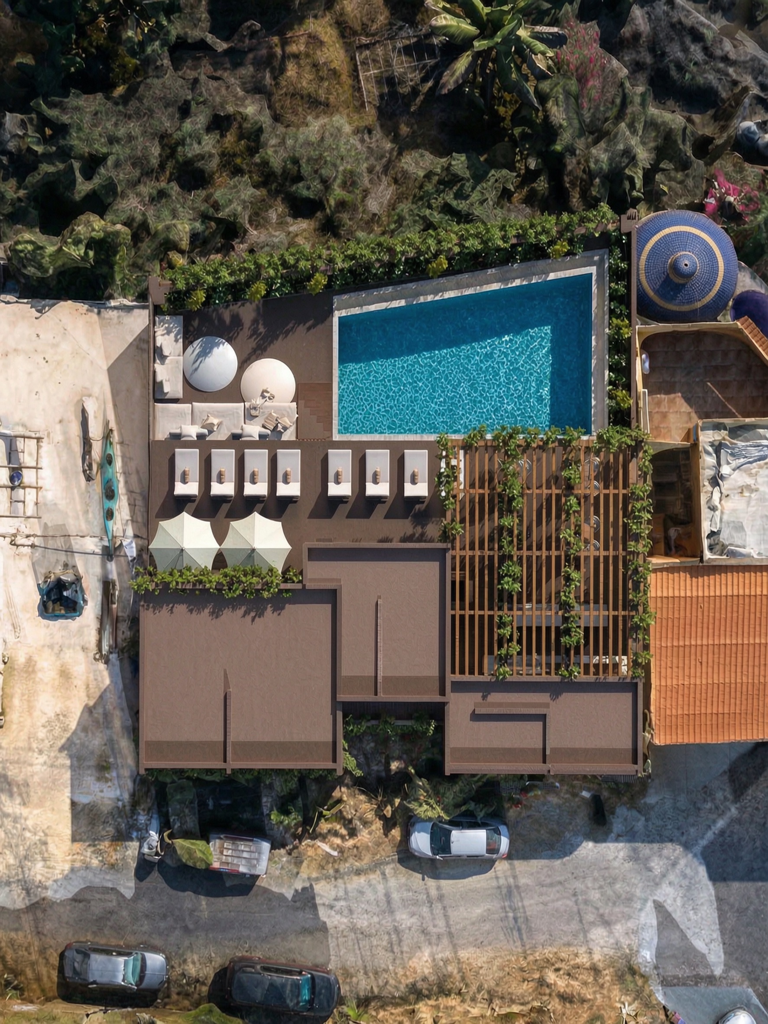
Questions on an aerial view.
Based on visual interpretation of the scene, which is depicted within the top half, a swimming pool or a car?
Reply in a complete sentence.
There is a swimming pool within the top half.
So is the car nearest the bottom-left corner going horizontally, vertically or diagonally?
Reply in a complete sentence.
The car nearest the bottom-left corner is laid out horizontally.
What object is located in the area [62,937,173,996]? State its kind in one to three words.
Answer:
car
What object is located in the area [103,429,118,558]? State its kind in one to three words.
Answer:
boat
